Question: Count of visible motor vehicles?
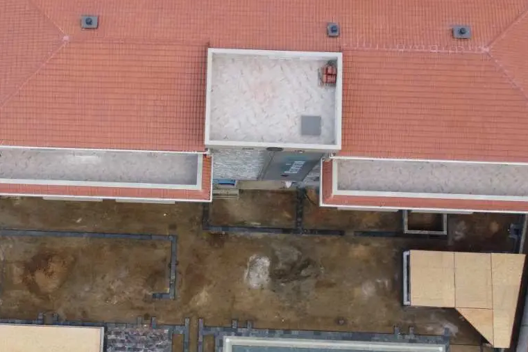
0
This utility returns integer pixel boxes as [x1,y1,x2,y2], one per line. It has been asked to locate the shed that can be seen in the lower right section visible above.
[396,251,526,349]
